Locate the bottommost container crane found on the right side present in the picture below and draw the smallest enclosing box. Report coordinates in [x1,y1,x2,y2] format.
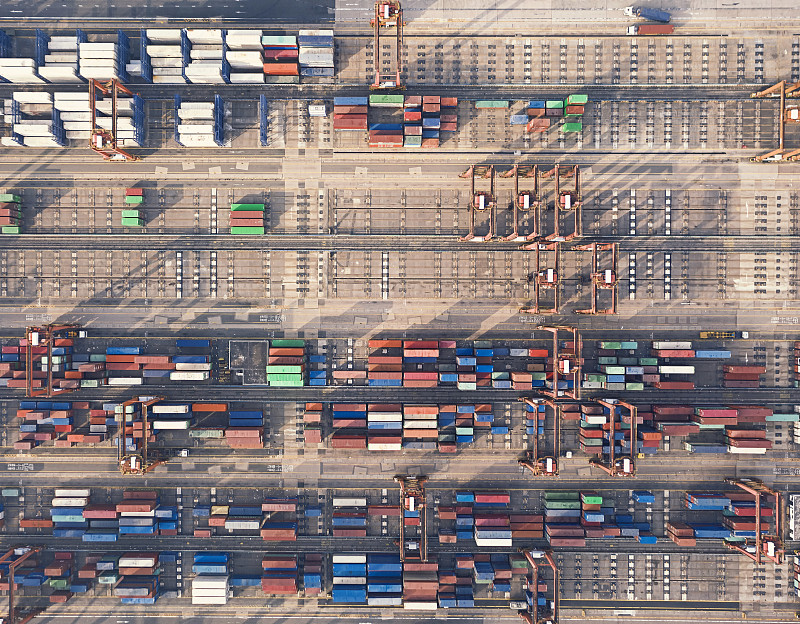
[519,548,562,624]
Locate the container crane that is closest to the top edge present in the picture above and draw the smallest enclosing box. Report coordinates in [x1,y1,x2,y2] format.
[371,1,408,89]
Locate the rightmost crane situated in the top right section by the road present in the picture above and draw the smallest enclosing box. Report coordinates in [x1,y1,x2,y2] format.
[753,79,800,162]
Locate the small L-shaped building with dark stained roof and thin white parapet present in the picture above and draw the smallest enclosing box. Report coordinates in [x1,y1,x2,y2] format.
[229,341,269,384]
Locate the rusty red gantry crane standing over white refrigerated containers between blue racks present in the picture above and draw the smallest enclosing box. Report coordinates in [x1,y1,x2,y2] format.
[87,78,138,161]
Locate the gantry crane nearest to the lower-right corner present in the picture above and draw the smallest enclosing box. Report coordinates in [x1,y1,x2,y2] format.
[729,476,787,561]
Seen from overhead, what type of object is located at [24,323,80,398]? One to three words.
container crane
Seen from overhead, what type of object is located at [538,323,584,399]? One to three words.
container crane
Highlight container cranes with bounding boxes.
[540,165,585,243]
[0,548,42,624]
[459,165,500,243]
[501,165,544,243]
[24,323,80,398]
[394,477,431,561]
[753,79,800,162]
[116,395,168,474]
[538,323,584,399]
[592,396,639,476]
[87,78,138,161]
[371,1,408,89]
[520,241,563,316]
[520,395,562,475]
[574,241,621,316]
[519,548,562,624]
[729,476,787,561]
